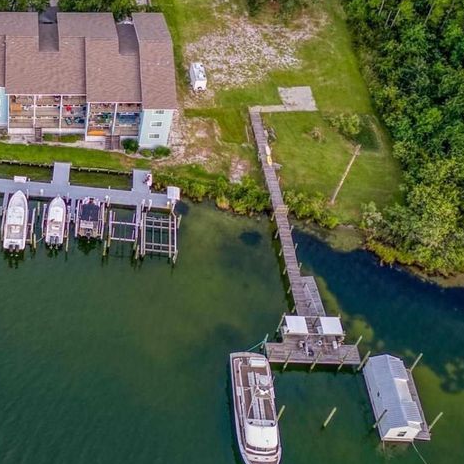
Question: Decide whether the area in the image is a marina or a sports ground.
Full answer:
This image shows a marina.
